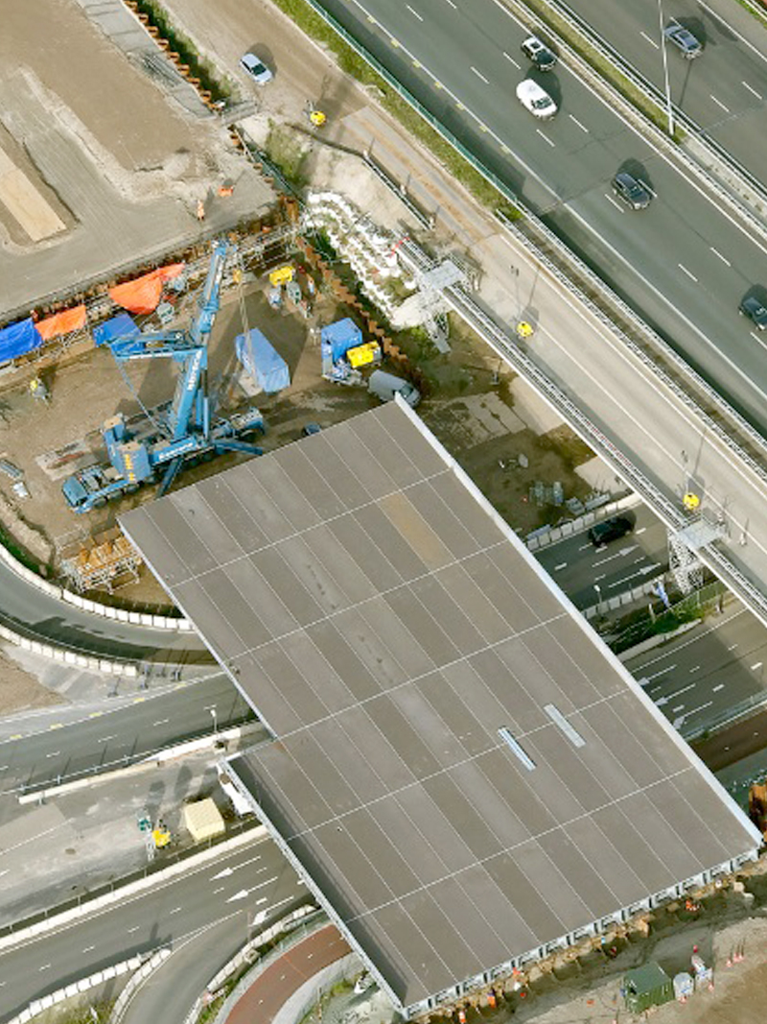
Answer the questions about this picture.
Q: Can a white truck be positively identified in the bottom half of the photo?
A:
Yes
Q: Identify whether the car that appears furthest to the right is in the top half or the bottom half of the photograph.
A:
top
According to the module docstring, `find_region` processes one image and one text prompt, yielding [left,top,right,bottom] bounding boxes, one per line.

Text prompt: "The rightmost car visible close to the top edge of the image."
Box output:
[664,26,705,58]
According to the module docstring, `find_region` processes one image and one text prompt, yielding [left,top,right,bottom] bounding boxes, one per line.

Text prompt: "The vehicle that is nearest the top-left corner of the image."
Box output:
[238,52,272,86]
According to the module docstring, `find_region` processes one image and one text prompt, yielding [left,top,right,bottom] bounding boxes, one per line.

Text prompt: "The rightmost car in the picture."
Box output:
[738,284,767,327]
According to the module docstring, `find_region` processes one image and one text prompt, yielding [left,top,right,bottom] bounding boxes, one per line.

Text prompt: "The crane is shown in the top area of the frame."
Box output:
[66,237,278,516]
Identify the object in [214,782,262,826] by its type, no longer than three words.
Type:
truck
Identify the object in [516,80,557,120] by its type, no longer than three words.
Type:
car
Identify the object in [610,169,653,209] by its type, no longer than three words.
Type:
car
